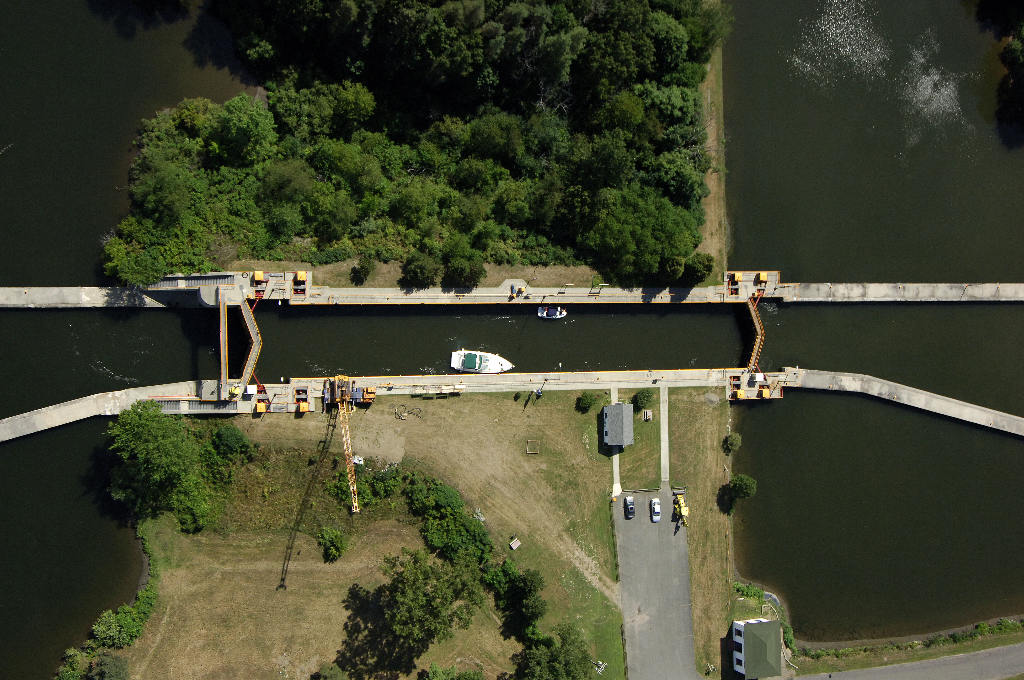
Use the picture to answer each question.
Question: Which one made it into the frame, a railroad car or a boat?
boat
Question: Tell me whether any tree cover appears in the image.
Yes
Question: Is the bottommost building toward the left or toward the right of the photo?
right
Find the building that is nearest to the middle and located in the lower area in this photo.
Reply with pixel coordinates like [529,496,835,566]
[604,401,636,448]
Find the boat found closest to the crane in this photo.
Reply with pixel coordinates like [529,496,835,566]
[449,349,512,374]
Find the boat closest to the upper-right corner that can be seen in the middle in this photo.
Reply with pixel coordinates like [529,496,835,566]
[536,307,566,319]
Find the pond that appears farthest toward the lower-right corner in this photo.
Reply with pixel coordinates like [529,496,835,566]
[731,388,1024,642]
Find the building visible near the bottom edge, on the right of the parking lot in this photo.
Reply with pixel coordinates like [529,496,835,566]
[733,615,781,680]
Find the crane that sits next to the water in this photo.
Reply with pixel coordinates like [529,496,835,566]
[322,375,375,514]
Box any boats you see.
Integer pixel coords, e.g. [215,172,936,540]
[536,307,566,319]
[449,349,512,374]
